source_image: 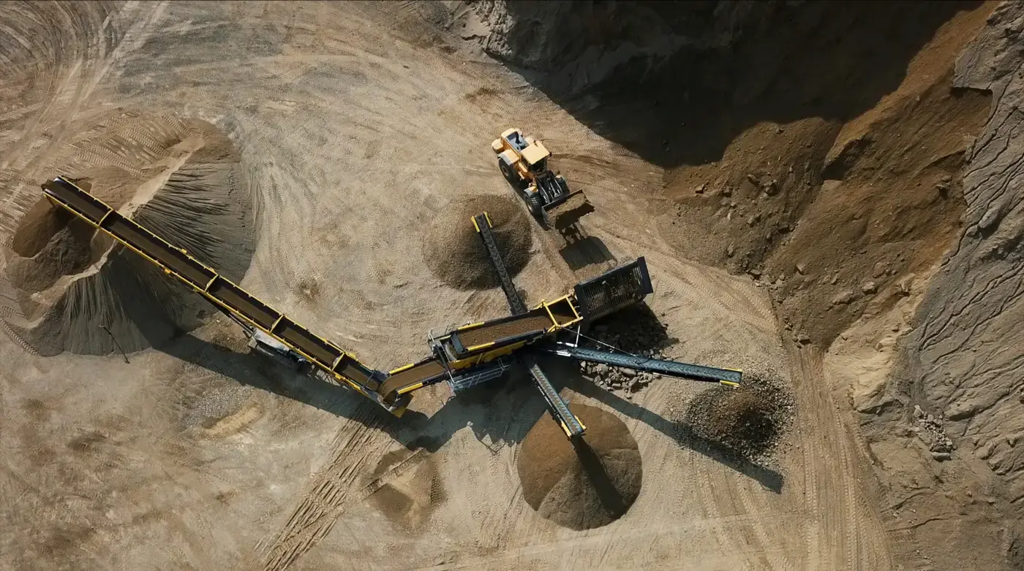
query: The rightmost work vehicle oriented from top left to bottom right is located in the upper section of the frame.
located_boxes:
[492,125,590,235]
